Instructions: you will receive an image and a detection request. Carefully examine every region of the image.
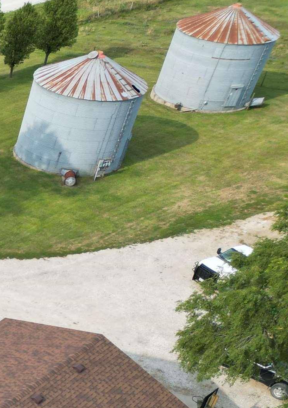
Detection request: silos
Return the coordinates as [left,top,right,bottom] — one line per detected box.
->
[12,51,149,178]
[150,1,282,115]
